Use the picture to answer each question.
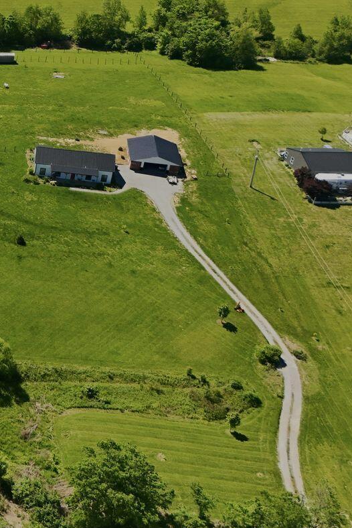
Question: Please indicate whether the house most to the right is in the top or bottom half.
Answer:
top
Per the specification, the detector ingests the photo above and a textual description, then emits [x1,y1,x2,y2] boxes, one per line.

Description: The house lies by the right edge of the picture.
[278,146,352,177]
